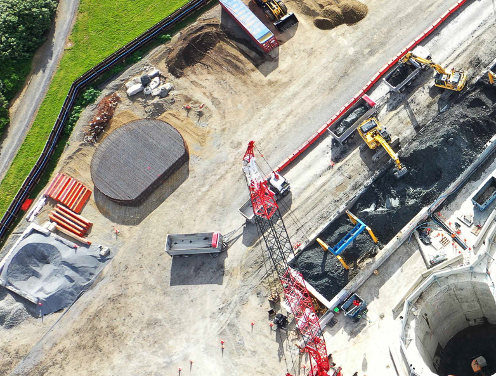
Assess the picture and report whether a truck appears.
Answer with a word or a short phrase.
Yes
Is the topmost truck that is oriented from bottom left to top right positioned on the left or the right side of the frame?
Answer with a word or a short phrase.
right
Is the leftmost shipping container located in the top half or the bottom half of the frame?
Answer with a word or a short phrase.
top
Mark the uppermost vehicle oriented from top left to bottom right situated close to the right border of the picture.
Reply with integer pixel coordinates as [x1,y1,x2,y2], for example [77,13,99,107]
[413,43,473,100]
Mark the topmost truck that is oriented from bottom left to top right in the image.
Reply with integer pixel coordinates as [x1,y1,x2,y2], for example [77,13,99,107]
[377,43,433,94]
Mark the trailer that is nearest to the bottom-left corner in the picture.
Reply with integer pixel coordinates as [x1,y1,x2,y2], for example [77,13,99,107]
[161,236,245,264]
